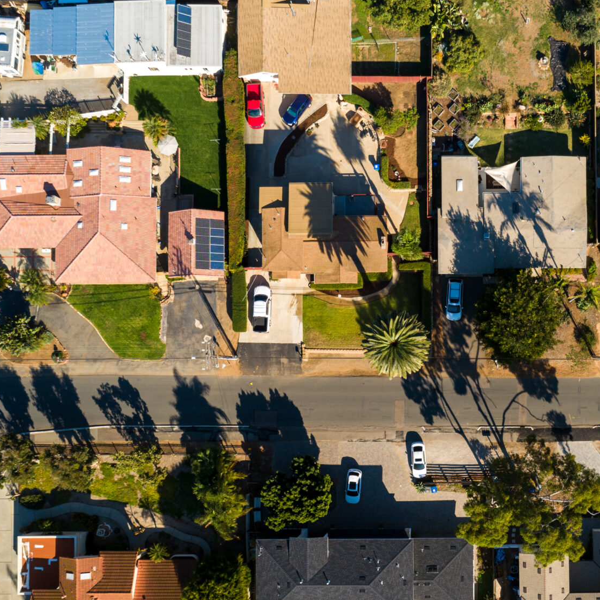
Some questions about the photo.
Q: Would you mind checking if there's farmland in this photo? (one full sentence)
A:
No, farmland can't be seen anywhere here.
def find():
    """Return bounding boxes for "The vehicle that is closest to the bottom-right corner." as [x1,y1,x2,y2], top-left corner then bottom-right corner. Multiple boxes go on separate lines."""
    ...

[409,440,427,478]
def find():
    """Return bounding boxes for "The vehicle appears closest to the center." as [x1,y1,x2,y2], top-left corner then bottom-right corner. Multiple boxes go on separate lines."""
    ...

[251,286,271,332]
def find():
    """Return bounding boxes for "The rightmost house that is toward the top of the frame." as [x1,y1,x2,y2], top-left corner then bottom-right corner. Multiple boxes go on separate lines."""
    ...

[437,156,587,276]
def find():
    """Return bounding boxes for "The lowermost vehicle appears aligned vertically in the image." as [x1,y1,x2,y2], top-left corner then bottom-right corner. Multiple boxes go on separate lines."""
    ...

[344,467,363,504]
